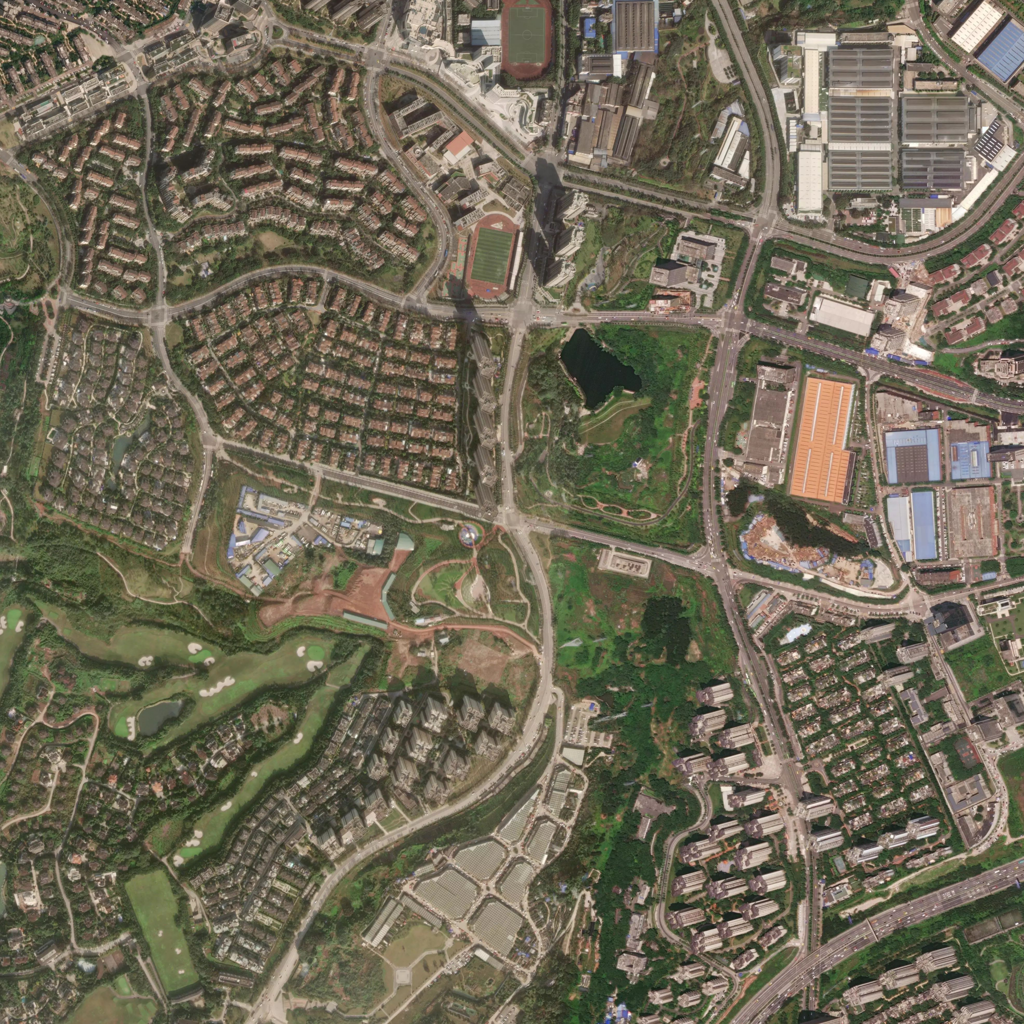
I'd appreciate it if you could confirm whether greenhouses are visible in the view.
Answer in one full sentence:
Yes, you can see a greenhouse in this photo.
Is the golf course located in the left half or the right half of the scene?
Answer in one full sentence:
The golf course sits on the left side.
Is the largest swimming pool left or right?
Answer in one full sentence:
It is on the right.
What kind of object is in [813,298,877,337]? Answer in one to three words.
shed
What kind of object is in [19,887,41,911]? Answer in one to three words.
house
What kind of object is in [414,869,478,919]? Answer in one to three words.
greenhouse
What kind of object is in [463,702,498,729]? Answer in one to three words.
building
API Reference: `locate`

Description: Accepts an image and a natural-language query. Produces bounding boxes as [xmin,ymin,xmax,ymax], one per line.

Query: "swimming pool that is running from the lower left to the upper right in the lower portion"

[780,623,813,645]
